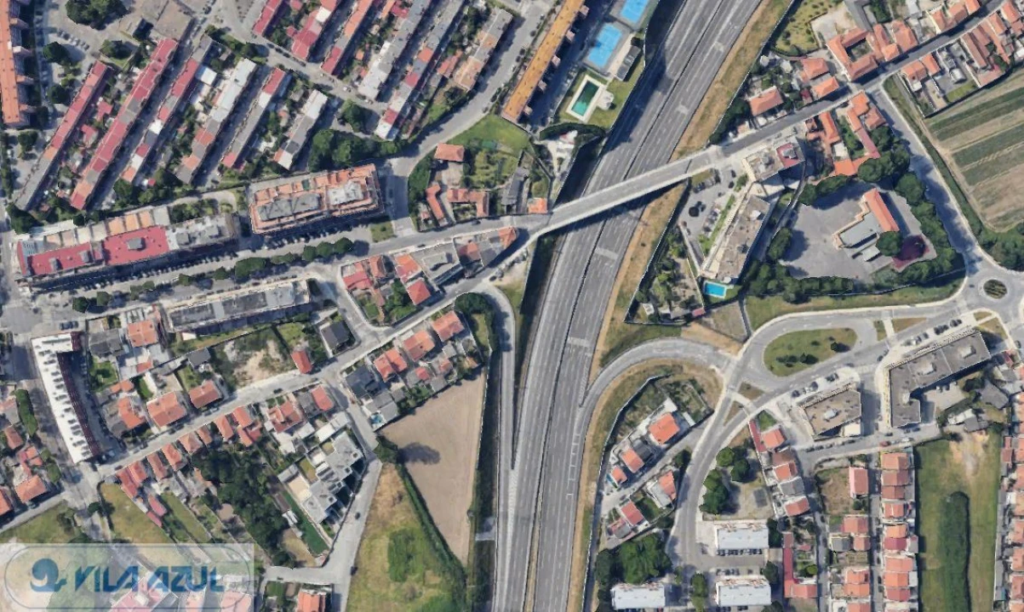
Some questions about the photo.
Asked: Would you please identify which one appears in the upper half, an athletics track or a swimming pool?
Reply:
swimming pool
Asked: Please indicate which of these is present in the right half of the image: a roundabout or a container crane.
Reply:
roundabout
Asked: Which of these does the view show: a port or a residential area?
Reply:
residential area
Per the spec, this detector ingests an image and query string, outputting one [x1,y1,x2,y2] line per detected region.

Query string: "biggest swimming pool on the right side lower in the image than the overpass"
[702,280,727,298]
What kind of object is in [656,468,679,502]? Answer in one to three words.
house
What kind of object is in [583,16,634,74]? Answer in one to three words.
sports court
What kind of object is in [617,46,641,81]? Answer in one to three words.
building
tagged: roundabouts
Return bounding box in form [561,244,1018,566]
[971,264,1020,314]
